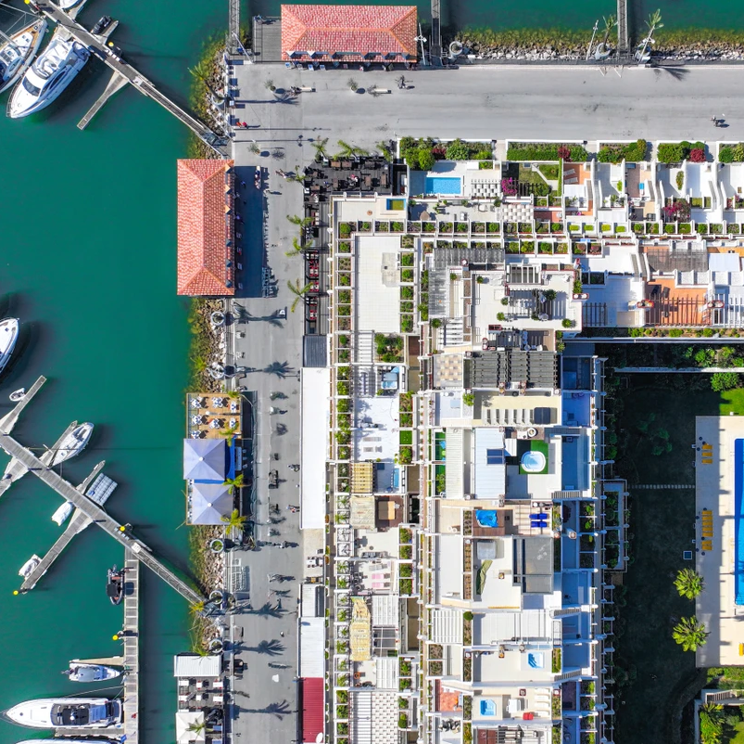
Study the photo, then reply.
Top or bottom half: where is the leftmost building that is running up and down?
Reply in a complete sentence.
Seen from above, the leftmost building that is running up and down lies in the top half of the view.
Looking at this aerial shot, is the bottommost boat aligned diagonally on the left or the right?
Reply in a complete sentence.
The bottommost boat aligned diagonally sits on the left side.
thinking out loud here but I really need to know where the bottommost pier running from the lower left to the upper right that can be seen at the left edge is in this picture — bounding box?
[21,508,93,593]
